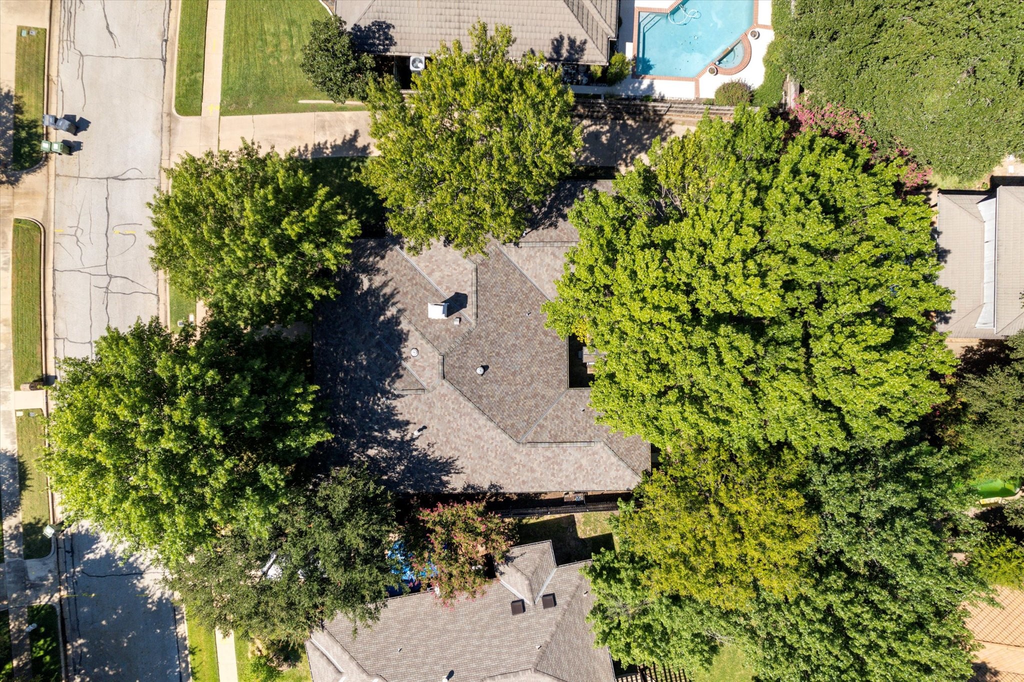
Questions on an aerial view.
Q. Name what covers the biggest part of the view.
trees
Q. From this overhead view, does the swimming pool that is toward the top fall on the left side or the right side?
right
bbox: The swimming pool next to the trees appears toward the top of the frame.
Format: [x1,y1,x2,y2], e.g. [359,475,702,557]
[632,0,773,98]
